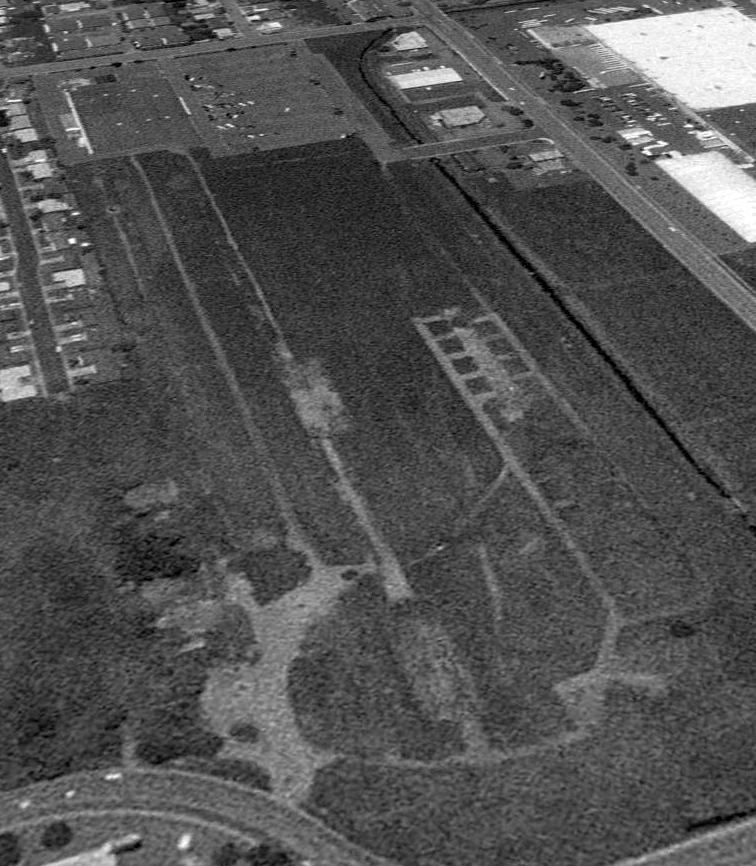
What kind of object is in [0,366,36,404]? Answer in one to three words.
house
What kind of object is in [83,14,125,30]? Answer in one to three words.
building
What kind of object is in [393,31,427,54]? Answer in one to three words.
building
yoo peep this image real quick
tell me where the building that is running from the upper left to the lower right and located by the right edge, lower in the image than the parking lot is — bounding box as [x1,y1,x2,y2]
[654,151,756,245]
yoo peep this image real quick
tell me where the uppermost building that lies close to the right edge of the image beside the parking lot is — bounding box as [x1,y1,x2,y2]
[585,7,756,112]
